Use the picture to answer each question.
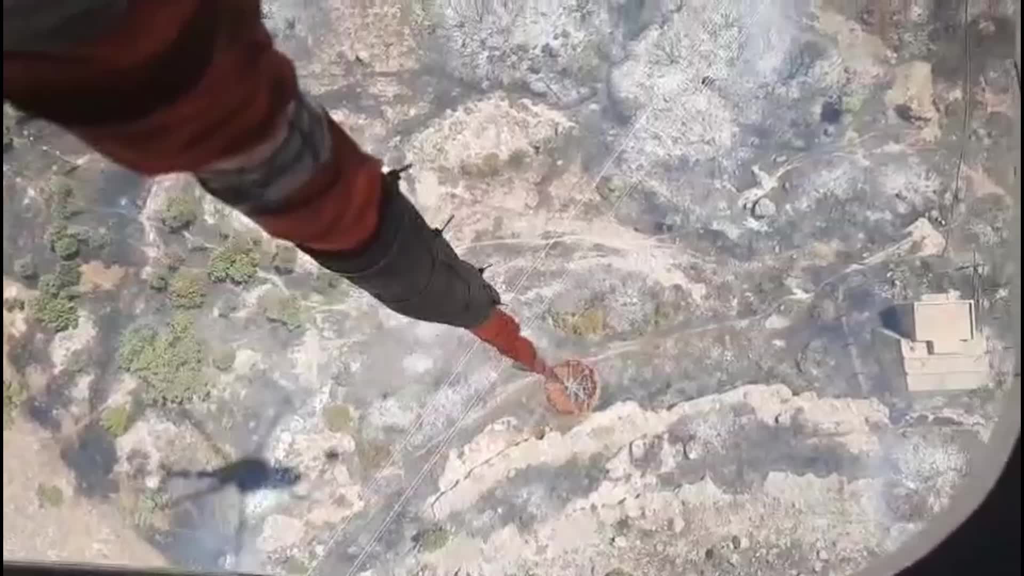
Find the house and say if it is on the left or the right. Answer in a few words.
right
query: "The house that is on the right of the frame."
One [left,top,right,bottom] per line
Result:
[895,290,991,391]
